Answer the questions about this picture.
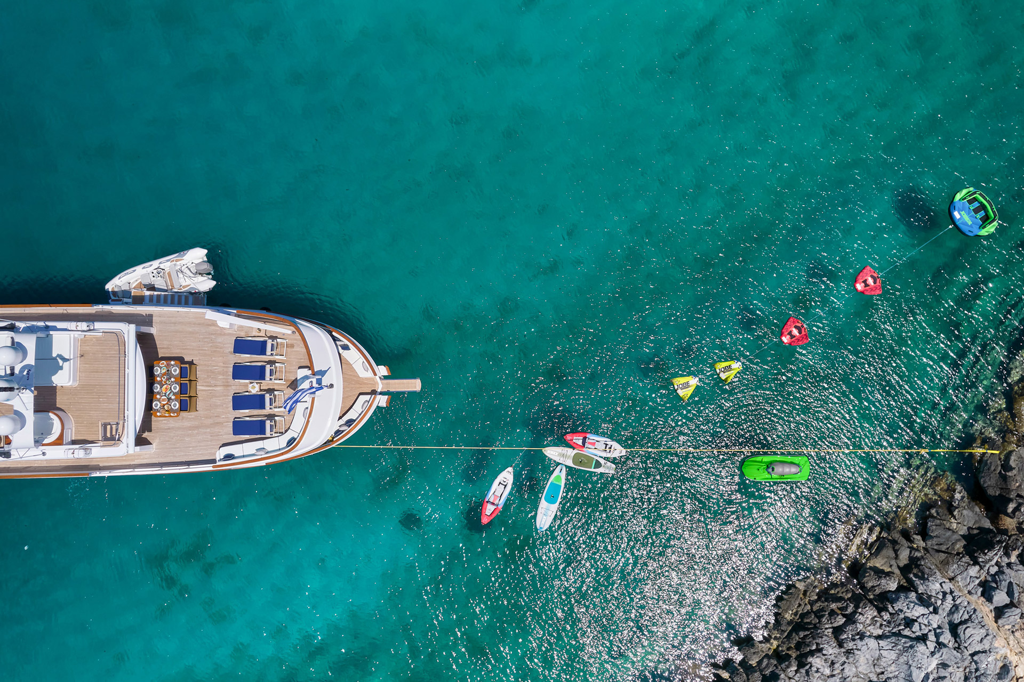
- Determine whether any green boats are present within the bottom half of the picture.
Yes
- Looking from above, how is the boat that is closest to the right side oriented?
horizontally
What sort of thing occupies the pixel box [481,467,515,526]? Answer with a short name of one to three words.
boat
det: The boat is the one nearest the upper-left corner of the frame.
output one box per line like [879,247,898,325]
[106,248,215,303]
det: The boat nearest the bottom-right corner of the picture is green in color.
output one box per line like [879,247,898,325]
[741,456,811,481]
